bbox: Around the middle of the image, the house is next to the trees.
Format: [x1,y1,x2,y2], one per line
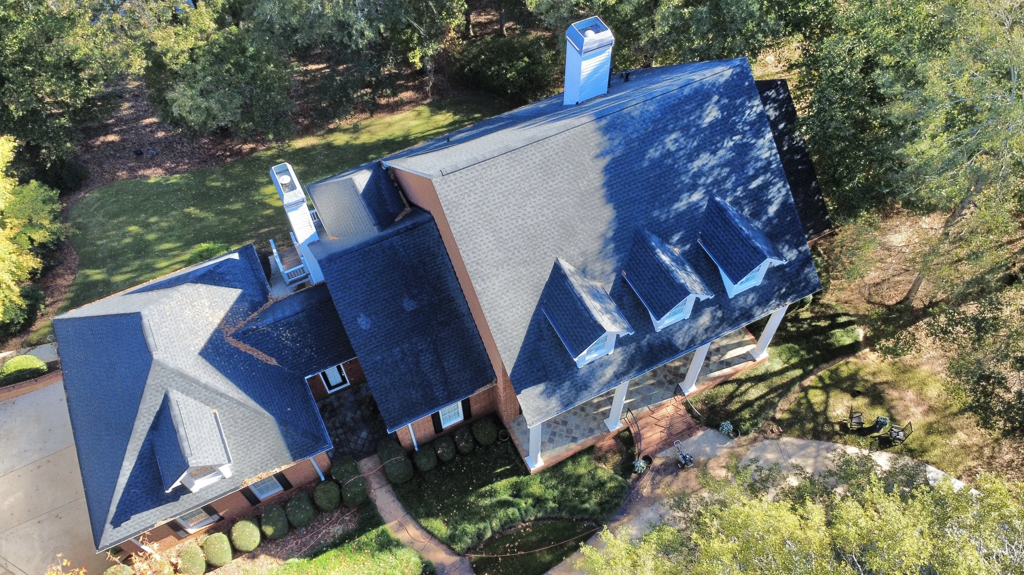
[49,17,838,561]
